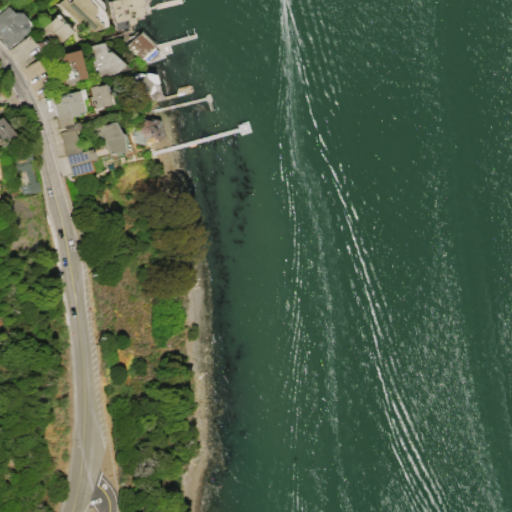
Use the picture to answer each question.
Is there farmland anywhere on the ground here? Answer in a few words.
No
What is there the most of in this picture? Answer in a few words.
water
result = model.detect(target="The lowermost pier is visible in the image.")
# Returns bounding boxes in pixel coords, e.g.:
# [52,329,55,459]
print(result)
[152,121,252,156]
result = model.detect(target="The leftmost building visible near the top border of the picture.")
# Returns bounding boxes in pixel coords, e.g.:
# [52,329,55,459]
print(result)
[0,7,32,48]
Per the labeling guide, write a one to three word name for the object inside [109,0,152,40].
house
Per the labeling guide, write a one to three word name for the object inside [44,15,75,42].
house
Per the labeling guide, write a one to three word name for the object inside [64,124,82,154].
building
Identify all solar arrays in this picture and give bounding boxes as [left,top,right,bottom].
[70,153,89,164]
[72,163,93,176]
